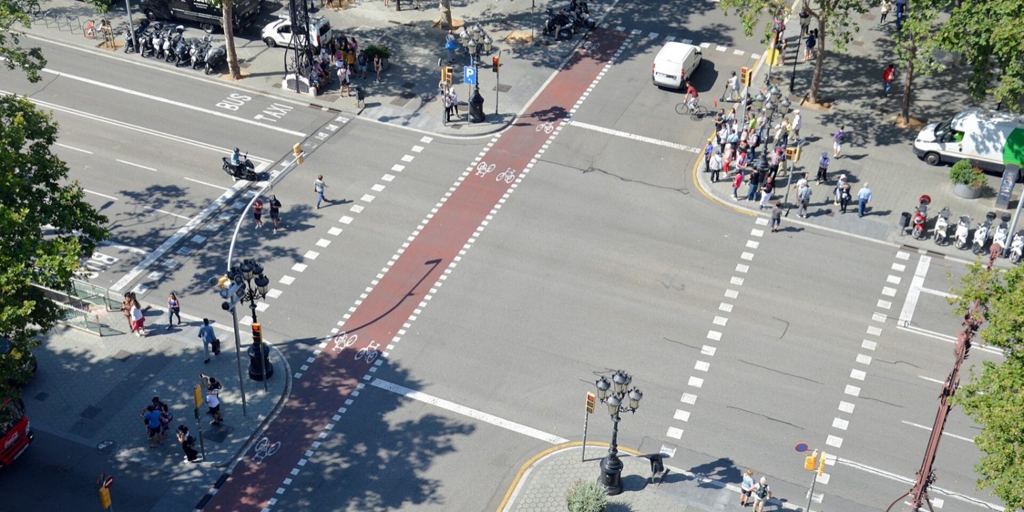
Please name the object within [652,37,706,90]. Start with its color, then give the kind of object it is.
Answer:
white van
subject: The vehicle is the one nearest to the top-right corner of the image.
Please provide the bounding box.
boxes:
[909,106,1024,183]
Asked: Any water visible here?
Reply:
No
